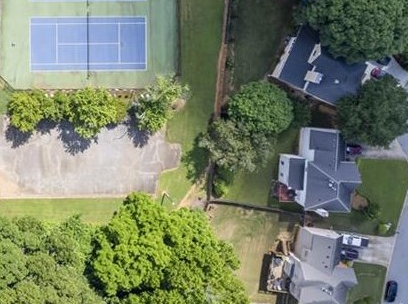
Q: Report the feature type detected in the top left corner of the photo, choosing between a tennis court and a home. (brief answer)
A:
tennis court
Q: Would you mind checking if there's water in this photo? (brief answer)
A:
No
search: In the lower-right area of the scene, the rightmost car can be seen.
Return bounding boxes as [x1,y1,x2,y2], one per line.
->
[384,279,399,304]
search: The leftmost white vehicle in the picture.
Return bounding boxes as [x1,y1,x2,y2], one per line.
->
[340,235,370,248]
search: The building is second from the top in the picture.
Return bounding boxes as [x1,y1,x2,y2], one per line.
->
[282,131,366,219]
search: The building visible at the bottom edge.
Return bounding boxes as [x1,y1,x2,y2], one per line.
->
[283,229,363,304]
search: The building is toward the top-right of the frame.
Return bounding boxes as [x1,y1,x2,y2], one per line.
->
[271,25,373,112]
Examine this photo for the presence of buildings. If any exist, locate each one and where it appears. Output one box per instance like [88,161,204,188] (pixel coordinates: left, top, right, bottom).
[283,229,363,304]
[282,131,366,219]
[271,25,373,112]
